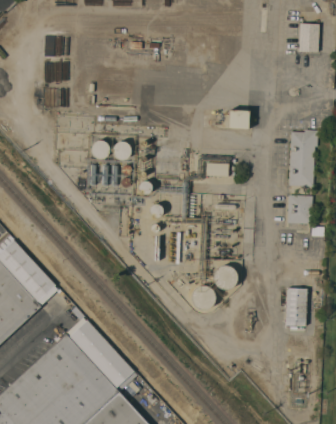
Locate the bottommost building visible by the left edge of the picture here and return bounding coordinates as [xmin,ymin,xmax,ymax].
[0,334,118,424]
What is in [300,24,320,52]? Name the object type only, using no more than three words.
building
